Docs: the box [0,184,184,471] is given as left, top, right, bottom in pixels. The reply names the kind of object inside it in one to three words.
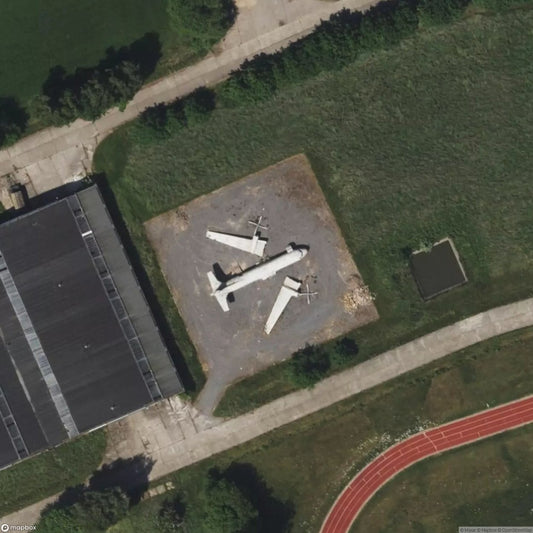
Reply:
hangar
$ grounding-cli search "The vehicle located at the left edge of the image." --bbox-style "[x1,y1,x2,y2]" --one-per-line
[8,185,26,210]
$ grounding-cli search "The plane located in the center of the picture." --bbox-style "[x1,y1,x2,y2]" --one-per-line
[207,248,308,311]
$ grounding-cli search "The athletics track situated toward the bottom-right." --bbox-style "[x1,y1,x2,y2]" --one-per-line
[318,395,533,533]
